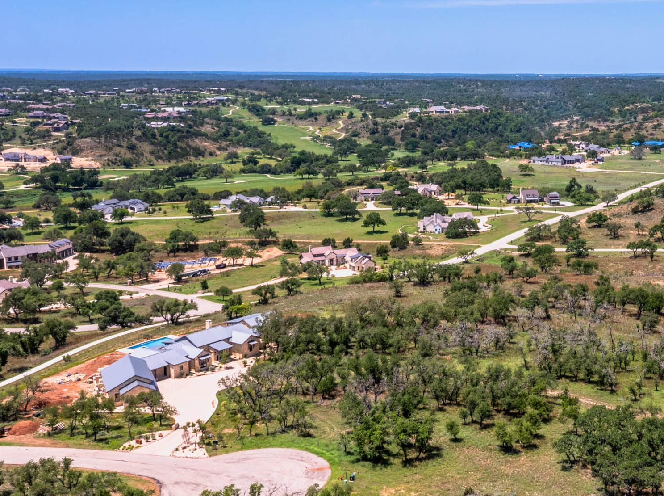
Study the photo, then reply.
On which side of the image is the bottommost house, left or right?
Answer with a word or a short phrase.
left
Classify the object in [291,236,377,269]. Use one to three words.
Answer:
house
